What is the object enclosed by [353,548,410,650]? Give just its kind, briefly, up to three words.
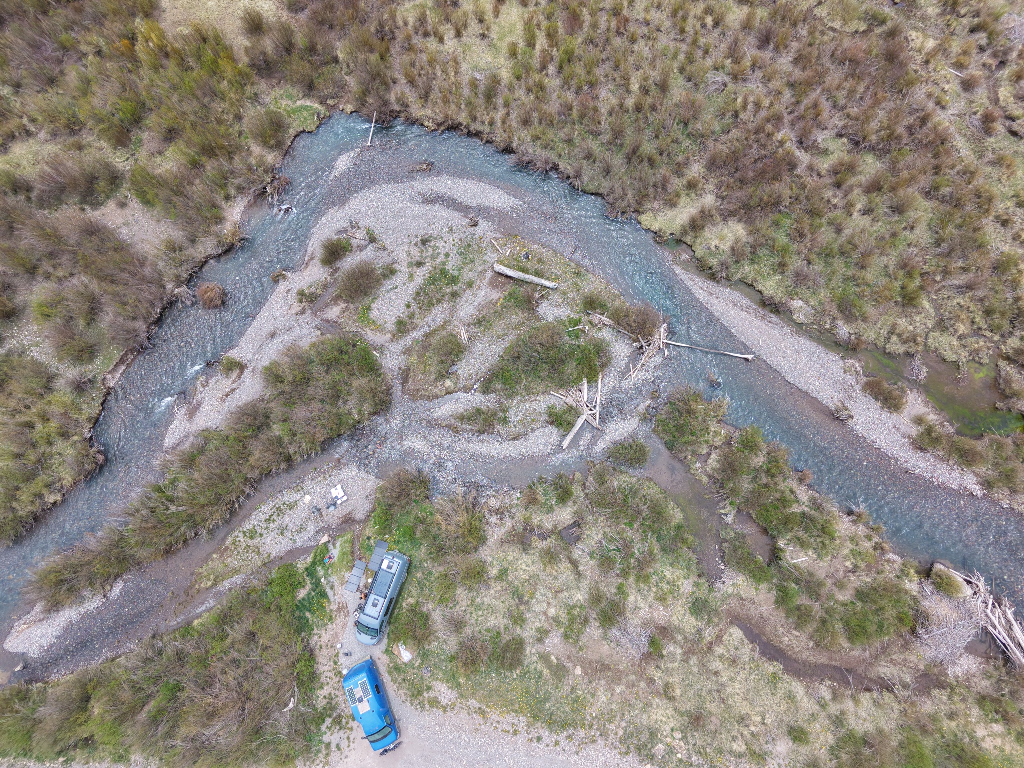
van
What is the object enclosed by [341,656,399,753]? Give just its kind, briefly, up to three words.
vehicle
